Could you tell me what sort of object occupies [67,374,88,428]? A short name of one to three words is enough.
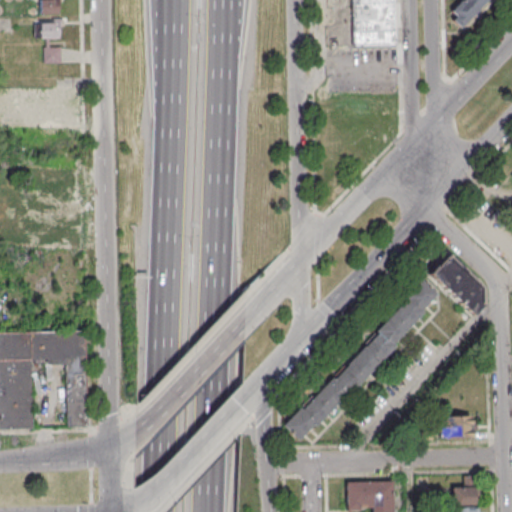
building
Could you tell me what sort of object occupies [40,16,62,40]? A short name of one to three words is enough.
house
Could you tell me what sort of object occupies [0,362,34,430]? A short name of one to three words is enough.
building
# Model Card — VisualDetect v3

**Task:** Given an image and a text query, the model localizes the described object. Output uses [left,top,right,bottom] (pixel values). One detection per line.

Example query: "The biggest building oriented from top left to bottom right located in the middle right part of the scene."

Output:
[437,258,486,312]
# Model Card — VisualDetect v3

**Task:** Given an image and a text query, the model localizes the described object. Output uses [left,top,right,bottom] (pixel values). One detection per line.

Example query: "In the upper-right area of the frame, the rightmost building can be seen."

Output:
[448,0,496,32]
